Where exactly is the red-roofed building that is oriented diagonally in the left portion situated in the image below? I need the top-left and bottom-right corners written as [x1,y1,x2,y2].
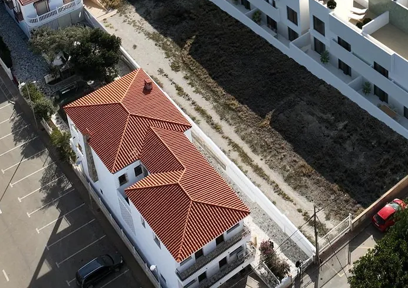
[61,68,261,288]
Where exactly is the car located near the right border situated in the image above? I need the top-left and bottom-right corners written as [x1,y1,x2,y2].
[370,197,408,228]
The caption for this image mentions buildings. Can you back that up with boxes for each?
[61,68,261,288]
[2,0,87,45]
[307,0,408,121]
